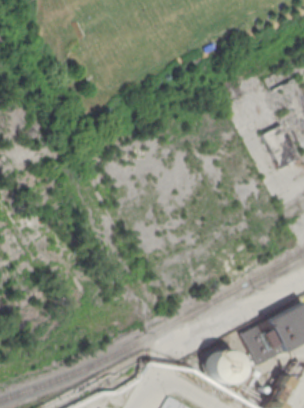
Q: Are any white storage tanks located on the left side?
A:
No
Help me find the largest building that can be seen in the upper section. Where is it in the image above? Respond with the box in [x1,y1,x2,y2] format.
[260,124,304,169]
